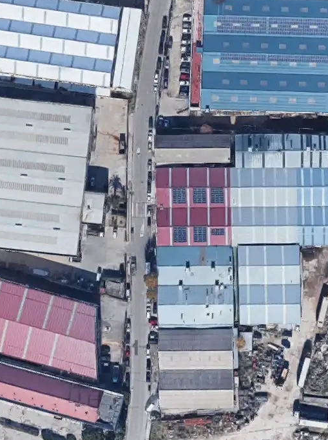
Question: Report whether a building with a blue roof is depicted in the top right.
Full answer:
Yes, a building with a blue roof appears in the top right.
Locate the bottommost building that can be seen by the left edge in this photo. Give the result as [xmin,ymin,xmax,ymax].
[0,362,104,424]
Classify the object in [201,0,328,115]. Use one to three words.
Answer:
warehouse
